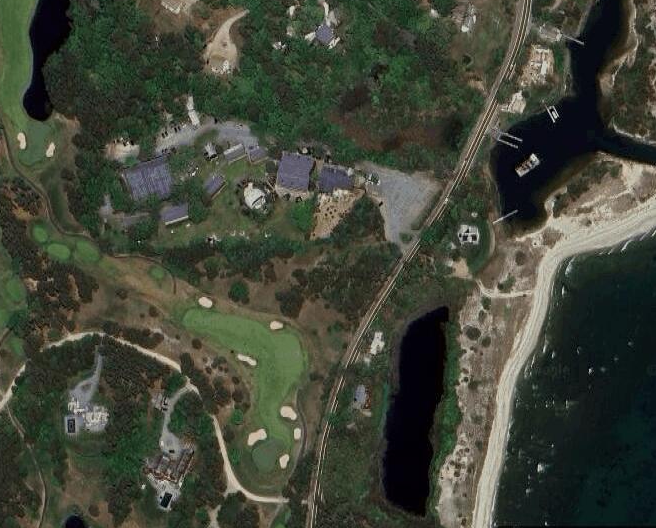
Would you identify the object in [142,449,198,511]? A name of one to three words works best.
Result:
house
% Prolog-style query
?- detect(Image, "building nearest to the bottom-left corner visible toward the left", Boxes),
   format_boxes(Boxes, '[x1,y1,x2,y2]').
[65,397,109,433]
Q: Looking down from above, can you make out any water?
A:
Yes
